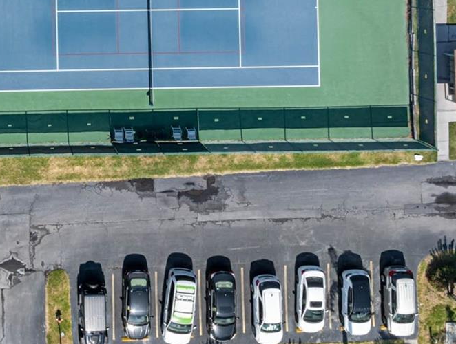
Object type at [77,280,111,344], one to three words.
vehicle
